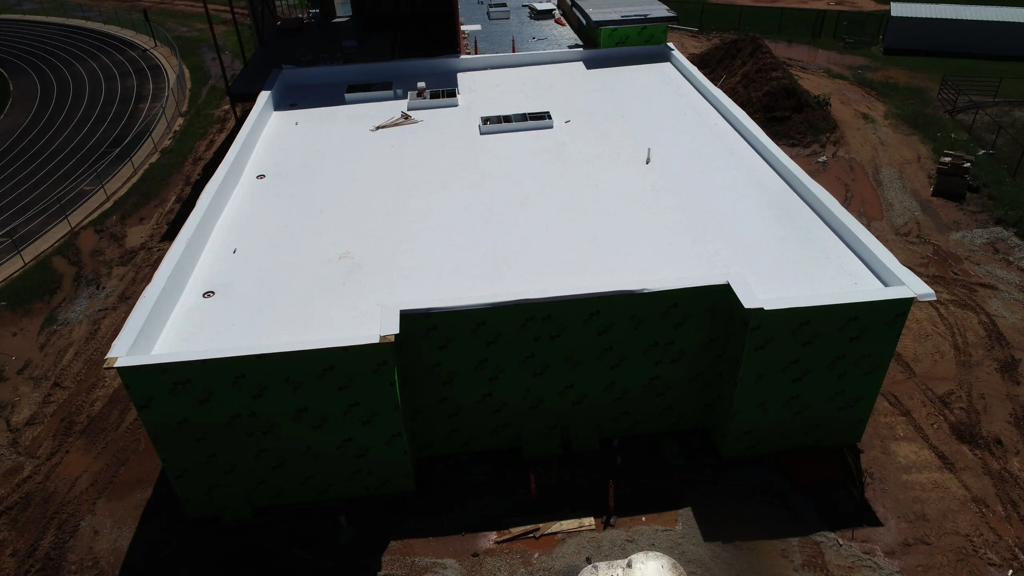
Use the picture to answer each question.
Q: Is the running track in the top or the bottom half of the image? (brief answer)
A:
top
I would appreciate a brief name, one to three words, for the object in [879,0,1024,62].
shed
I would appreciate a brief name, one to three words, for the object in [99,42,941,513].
building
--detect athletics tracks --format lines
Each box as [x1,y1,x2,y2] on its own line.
[0,18,171,256]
